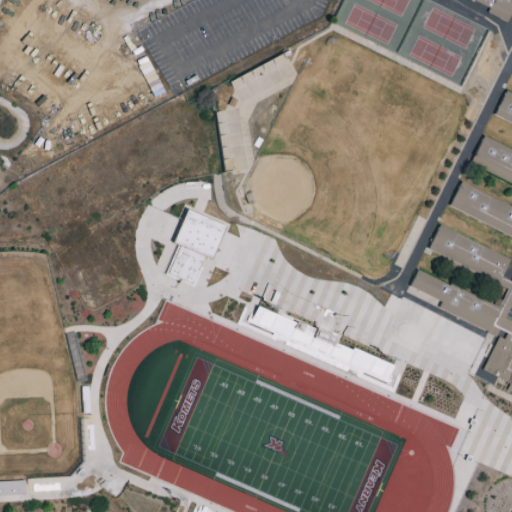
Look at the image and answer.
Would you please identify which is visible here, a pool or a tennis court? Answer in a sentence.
I can see a tennis court in this picture.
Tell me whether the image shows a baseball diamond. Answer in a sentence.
Yes, there's a baseball diamond down there.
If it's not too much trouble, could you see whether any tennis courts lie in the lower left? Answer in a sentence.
No, no tennis court can be made out in the lower left.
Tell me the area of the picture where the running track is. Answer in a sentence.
The running track is in the bottom part of the image.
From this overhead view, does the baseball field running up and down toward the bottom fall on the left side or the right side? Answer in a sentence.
It is on the left.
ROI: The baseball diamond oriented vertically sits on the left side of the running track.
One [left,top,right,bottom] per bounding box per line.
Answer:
[0,252,82,479]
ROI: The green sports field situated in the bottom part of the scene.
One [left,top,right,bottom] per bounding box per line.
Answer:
[126,346,406,512]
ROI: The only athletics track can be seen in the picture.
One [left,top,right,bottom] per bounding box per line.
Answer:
[103,302,458,512]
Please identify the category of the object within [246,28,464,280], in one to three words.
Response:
baseball field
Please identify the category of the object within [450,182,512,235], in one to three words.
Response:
building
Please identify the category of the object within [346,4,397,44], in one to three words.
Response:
tennis court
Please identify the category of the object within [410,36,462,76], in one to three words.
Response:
tennis court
